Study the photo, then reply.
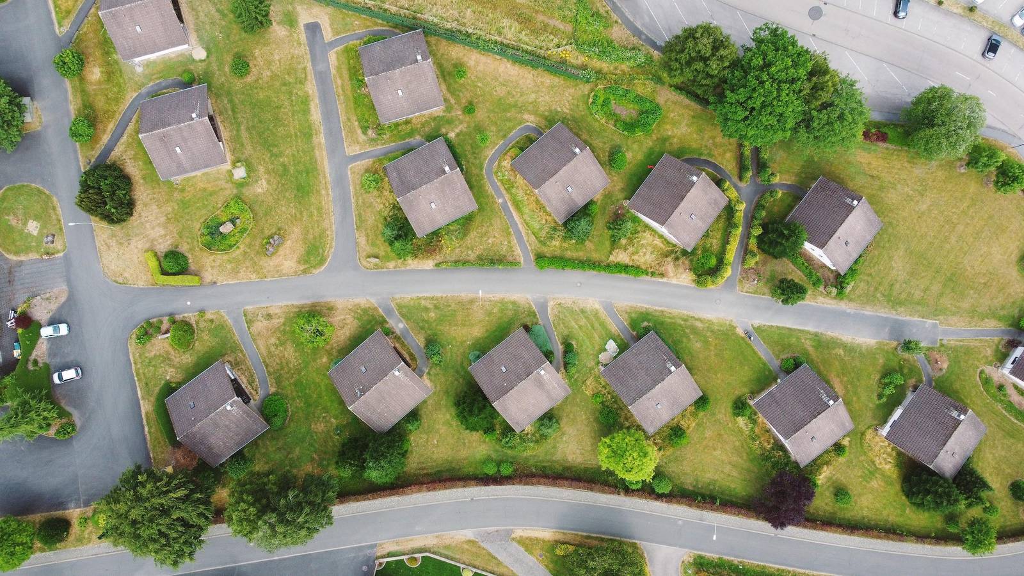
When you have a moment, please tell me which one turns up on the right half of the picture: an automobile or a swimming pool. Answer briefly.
automobile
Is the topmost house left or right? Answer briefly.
left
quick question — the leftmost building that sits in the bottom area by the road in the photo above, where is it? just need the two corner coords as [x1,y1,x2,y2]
[166,360,270,467]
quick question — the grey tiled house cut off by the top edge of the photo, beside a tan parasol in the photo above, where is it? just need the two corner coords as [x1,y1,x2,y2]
[97,0,193,62]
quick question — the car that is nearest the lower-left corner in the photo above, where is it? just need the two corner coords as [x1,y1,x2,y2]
[53,368,83,384]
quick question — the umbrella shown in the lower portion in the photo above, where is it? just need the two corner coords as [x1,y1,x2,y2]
[599,351,613,365]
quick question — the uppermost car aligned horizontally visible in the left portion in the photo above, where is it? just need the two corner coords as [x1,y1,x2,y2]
[39,323,71,337]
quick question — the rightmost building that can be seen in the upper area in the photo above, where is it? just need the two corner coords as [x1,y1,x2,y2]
[786,175,884,274]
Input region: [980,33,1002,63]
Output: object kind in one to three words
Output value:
car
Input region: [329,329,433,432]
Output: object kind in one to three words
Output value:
house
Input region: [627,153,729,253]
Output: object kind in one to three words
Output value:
house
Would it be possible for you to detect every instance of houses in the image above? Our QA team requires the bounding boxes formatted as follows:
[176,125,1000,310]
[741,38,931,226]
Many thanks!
[601,331,704,436]
[97,0,193,62]
[329,329,433,432]
[881,384,988,477]
[510,122,610,224]
[998,336,1024,390]
[138,84,231,180]
[786,175,884,274]
[469,327,571,432]
[627,153,729,253]
[166,360,270,467]
[359,29,445,124]
[383,137,478,238]
[751,363,855,467]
